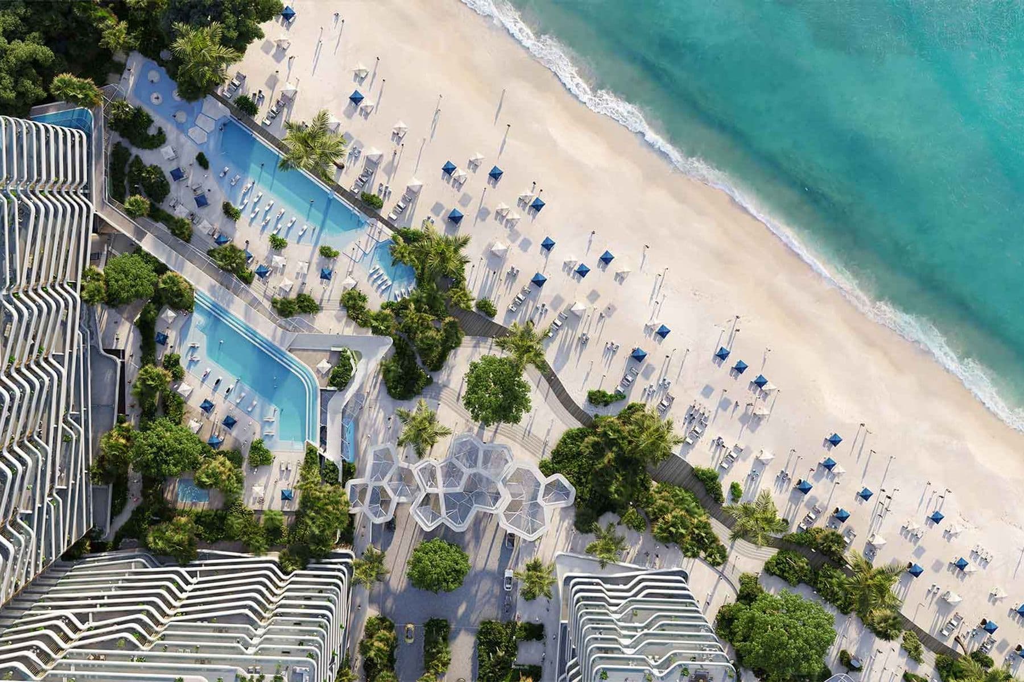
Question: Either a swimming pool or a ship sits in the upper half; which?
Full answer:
Looking in the upper half, you will find a swimming pool.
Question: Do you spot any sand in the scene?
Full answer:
Yes, there's sand in this view.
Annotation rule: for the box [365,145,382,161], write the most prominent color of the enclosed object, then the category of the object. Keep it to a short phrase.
white umbrella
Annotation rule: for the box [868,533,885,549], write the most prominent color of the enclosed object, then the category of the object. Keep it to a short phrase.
white umbrella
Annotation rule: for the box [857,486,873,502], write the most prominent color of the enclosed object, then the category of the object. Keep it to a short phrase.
blue umbrella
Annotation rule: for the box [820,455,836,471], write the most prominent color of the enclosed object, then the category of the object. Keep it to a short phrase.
blue umbrella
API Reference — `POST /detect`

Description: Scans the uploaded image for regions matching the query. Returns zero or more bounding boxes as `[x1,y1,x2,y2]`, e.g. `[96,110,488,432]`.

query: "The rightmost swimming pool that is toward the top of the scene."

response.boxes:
[342,232,416,298]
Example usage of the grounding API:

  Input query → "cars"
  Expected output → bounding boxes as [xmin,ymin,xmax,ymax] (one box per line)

[505,530,515,551]
[503,570,514,591]
[405,623,415,643]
